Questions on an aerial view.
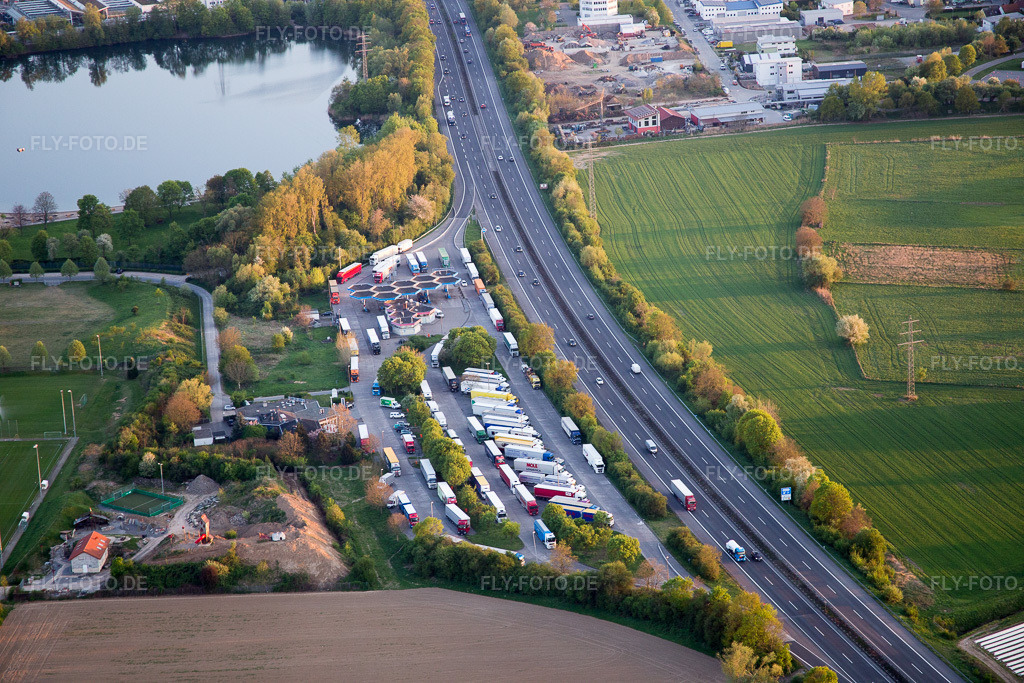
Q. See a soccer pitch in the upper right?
No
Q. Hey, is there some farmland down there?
Yes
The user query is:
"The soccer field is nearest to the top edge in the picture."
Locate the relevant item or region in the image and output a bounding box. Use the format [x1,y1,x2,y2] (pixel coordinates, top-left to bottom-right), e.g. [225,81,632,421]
[0,372,104,437]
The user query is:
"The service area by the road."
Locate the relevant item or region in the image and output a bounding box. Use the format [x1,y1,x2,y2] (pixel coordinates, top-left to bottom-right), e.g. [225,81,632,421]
[327,176,860,683]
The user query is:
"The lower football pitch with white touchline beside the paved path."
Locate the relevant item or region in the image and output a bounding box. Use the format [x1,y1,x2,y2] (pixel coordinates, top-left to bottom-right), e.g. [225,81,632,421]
[0,441,66,548]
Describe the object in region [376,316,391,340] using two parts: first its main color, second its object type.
white vehicle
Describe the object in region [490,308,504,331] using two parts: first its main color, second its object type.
white vehicle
